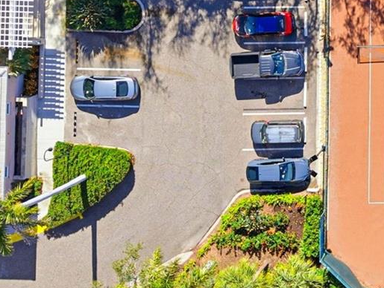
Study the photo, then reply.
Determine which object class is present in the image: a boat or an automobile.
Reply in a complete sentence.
The one in the frame is an automobile.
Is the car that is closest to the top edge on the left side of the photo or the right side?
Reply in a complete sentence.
You can find the car that is closest to the top edge on the right side of the picture.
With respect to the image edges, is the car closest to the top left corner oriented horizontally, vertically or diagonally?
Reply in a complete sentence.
Seen from above, the car closest to the top left corner lies horizontally.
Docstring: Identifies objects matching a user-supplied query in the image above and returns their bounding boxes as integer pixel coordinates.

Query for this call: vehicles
[253,120,305,149]
[74,74,141,105]
[234,10,294,39]
[248,159,312,190]
[230,49,306,81]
